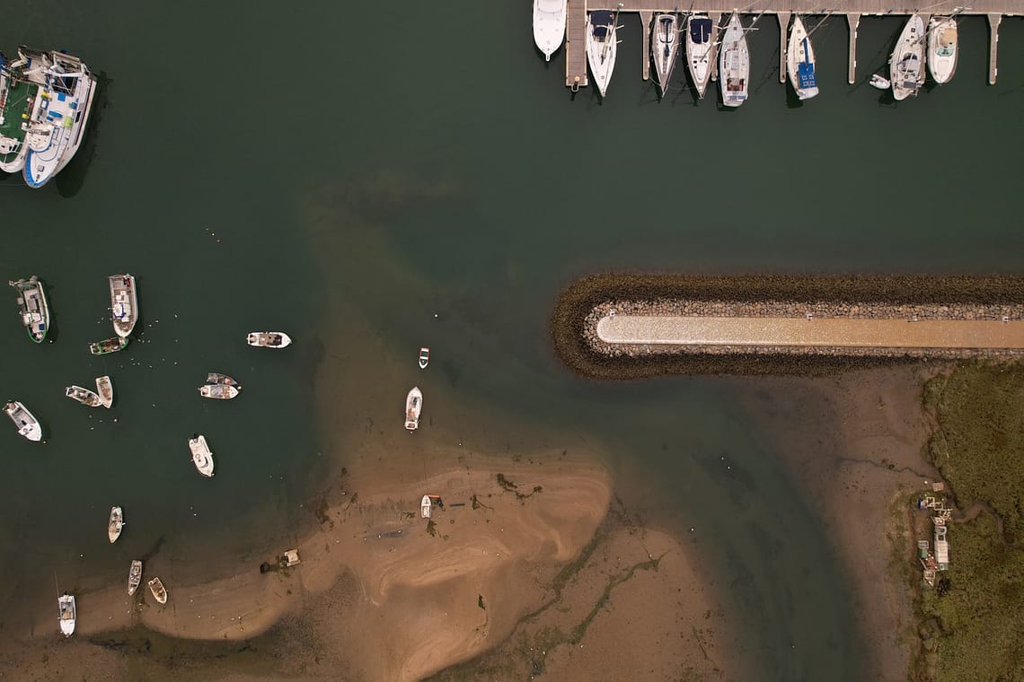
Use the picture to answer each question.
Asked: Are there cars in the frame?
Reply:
No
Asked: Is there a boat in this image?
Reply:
Yes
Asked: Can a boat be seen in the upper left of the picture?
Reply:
Yes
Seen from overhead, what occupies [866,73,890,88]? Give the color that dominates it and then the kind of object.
white boat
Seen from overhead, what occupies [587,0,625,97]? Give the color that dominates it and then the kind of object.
white boat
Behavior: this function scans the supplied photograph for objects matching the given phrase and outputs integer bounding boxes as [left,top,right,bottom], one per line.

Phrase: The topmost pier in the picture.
[566,0,1024,92]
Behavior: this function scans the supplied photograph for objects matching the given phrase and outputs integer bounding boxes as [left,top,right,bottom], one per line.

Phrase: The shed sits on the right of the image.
[928,539,948,569]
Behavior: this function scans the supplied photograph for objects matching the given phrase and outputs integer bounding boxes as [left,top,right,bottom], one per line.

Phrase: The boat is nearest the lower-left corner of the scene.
[54,566,77,637]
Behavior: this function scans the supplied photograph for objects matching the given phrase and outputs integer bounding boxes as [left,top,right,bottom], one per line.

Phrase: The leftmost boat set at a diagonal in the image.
[2,401,43,441]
